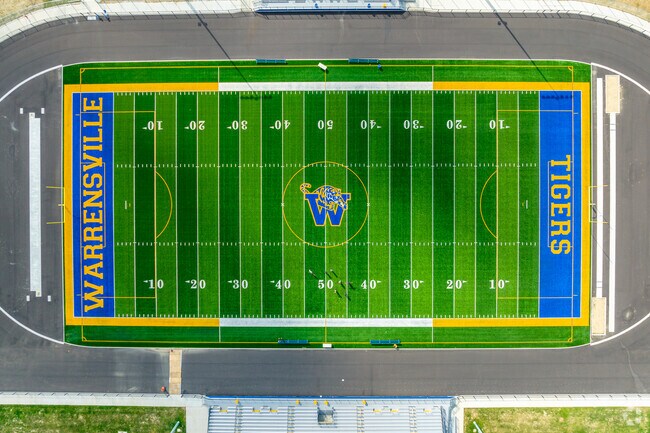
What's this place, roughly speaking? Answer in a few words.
sports ground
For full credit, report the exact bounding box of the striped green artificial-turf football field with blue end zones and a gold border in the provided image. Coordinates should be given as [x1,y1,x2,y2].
[63,60,590,349]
